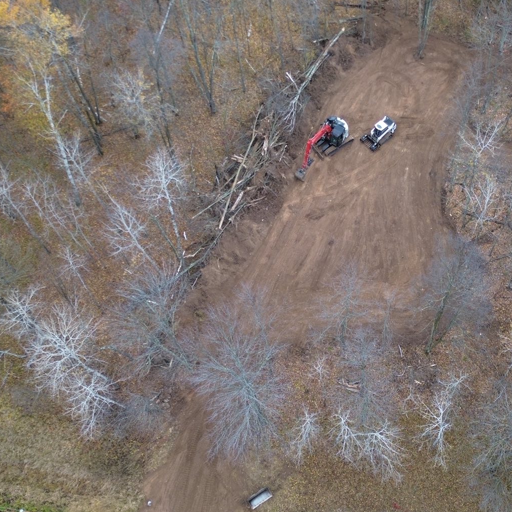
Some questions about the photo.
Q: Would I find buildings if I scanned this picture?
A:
No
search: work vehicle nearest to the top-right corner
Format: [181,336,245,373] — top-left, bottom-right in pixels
[360,117,397,153]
